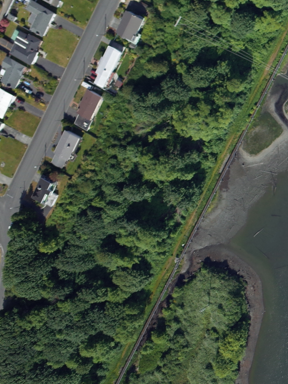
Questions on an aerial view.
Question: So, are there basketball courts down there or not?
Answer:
No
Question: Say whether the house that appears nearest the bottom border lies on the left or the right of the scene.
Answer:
left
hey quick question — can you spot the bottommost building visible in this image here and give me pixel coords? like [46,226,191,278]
[31,176,62,207]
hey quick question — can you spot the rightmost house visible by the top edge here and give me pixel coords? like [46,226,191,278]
[117,9,147,45]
